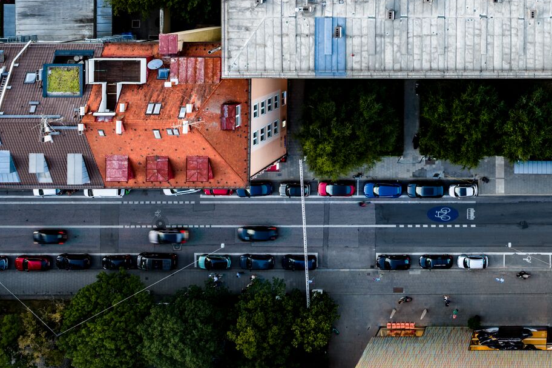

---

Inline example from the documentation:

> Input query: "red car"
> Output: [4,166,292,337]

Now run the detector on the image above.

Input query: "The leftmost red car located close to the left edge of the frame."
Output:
[15,254,51,272]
